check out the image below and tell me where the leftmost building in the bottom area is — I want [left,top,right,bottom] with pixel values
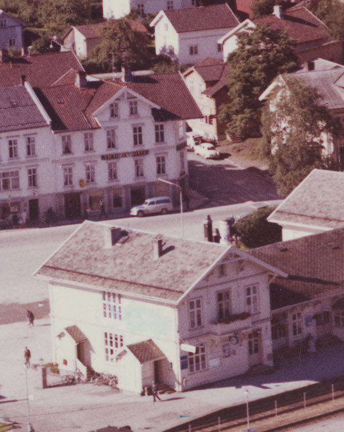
[34,218,286,397]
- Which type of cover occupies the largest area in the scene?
buildings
